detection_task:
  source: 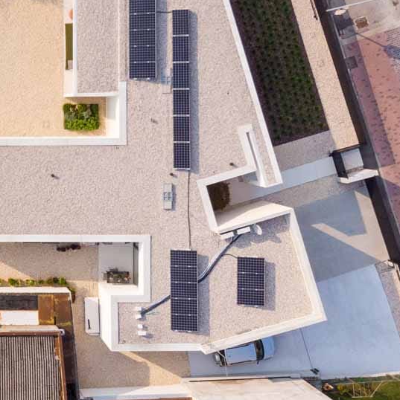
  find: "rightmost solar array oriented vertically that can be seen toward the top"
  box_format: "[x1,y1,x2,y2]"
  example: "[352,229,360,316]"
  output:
[173,9,189,171]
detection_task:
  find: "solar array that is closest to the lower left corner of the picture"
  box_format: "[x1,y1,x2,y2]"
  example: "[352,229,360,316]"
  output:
[171,248,198,332]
